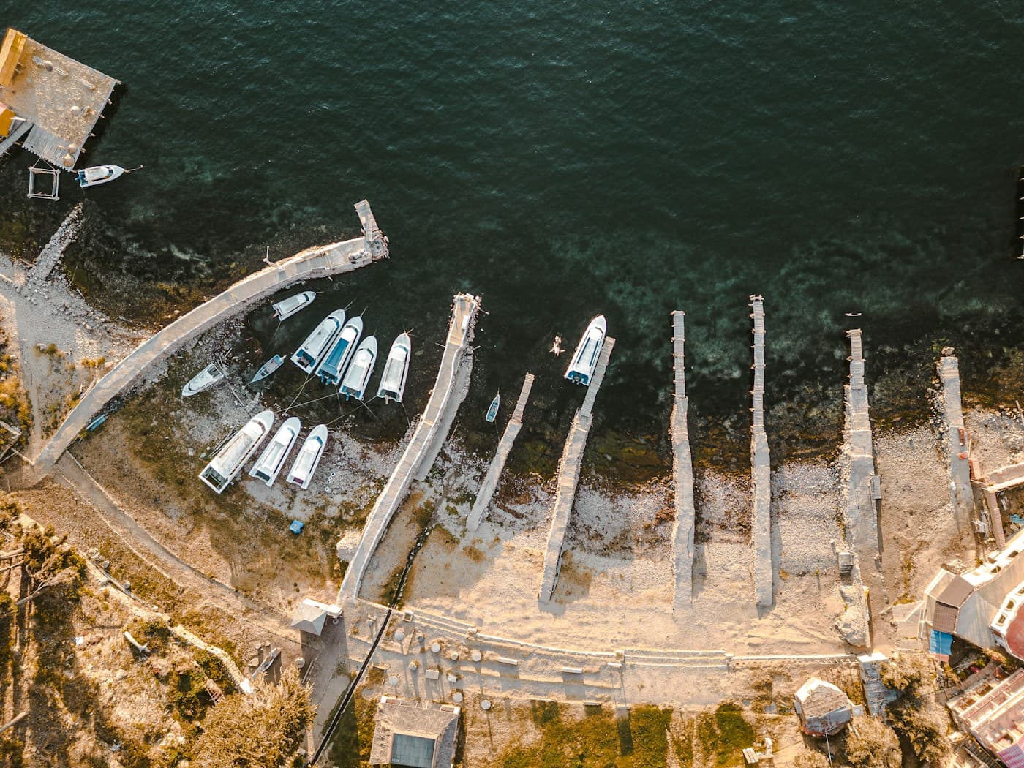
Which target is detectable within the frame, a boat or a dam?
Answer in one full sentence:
There is a boat in the scene.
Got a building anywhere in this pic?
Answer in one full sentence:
Yes, looking at the shot, I can spot a building.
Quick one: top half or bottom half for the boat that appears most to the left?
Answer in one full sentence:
The boat that appears most to the left is in the top half of the image.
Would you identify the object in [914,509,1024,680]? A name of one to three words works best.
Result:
building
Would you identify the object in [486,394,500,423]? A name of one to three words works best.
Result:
boat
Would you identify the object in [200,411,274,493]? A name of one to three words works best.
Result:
boat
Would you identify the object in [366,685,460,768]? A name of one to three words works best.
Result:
building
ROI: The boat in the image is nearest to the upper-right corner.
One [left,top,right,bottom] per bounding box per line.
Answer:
[565,315,606,388]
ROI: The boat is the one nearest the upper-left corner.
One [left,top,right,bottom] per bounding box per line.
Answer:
[76,166,128,187]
